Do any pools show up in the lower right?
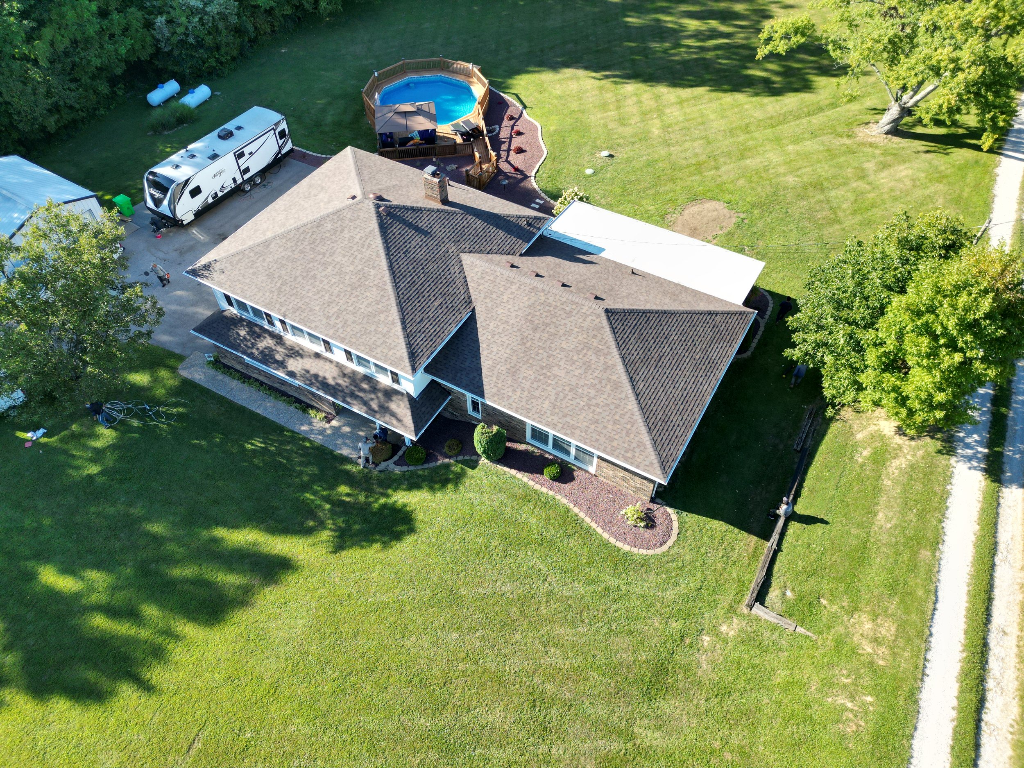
No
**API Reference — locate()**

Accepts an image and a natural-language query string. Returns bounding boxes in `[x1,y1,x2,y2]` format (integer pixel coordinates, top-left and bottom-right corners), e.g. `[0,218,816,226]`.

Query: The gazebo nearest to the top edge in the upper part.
[373,99,438,157]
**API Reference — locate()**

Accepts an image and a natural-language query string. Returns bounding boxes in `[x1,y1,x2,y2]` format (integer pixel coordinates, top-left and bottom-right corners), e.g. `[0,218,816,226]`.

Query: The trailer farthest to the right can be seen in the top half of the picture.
[141,108,292,243]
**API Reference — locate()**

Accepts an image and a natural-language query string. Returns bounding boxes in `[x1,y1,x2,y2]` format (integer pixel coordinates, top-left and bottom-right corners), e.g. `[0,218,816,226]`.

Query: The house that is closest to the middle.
[182,138,765,511]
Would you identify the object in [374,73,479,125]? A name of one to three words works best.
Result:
swimming pool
